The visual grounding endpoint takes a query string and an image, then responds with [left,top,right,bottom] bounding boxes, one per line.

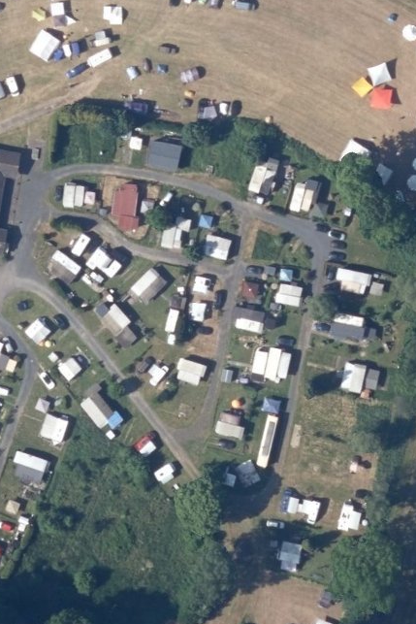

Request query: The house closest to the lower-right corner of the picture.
[281,540,302,572]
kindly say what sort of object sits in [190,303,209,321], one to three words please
camper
